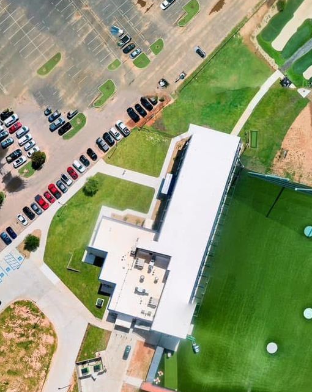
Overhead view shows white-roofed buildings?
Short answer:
Yes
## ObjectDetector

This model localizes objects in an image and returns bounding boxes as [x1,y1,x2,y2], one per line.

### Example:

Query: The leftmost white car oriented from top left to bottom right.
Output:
[16,212,29,228]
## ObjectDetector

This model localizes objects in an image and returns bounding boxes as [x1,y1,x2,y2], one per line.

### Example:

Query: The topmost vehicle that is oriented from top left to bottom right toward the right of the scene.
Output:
[193,44,206,60]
